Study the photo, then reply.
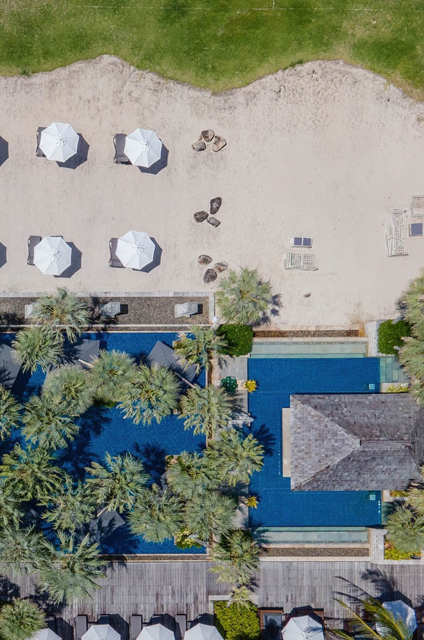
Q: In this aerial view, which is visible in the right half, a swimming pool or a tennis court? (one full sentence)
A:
There is a swimming pool in the right half.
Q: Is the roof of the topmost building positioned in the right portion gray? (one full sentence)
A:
Yes, the roof of the topmost building positioned in the right portion is gray.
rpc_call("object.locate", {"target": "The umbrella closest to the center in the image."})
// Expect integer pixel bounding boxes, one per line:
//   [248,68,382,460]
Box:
[115,231,155,270]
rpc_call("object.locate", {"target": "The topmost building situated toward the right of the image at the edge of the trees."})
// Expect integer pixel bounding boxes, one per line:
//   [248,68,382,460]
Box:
[291,394,424,491]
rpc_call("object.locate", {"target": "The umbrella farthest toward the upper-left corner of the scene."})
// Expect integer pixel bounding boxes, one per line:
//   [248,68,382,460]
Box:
[39,123,79,163]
